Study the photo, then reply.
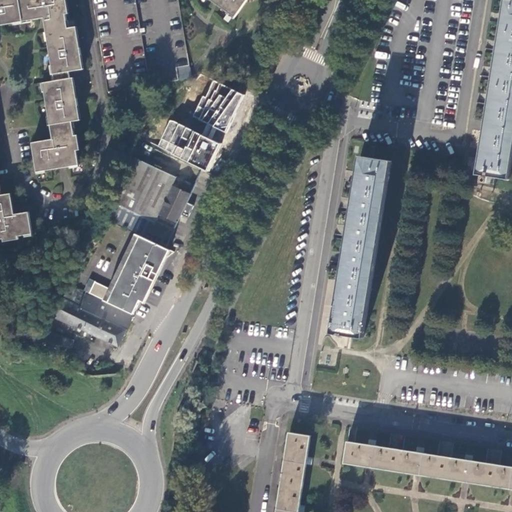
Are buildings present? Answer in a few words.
Yes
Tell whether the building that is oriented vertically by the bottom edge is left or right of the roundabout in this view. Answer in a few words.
right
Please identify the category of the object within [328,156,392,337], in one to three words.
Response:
building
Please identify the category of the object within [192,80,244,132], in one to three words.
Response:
building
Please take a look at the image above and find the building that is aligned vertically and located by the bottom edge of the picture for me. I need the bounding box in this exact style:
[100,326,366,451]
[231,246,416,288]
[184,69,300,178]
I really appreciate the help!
[276,432,314,512]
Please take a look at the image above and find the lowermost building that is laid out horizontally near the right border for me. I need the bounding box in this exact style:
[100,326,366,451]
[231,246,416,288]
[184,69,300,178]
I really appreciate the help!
[342,439,512,488]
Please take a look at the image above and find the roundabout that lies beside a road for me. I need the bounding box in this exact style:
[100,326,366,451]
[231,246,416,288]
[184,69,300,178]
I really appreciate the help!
[31,418,164,512]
